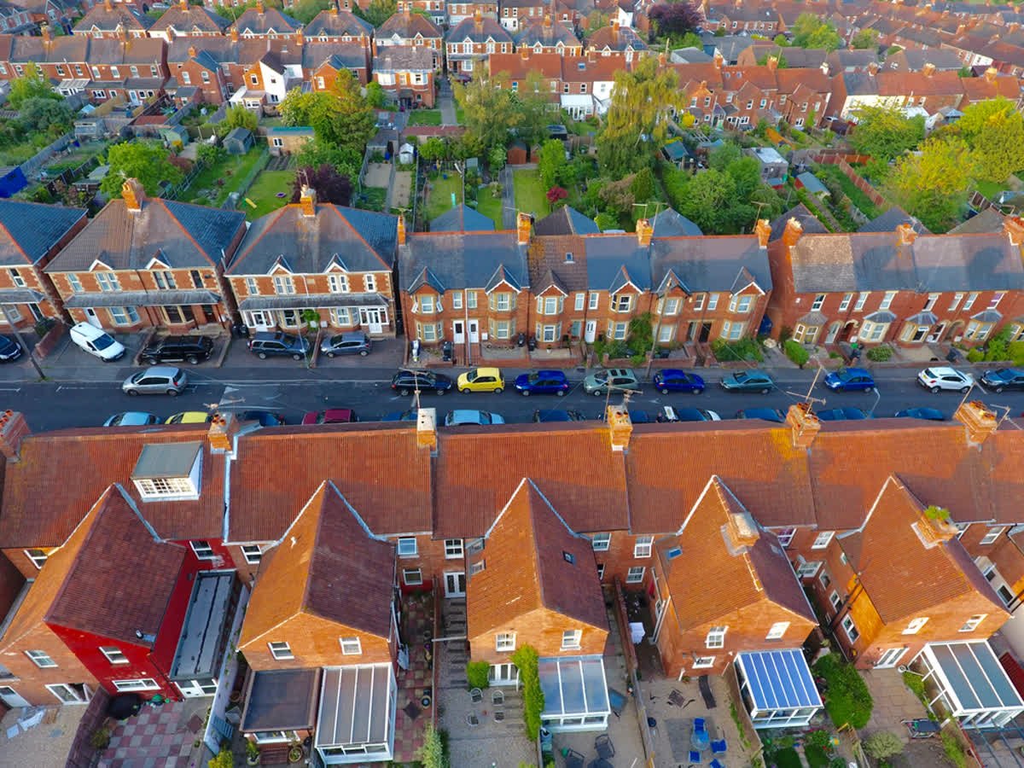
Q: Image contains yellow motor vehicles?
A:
Yes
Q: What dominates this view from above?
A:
buildings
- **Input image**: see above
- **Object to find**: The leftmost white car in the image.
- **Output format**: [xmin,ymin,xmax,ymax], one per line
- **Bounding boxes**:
[64,317,120,359]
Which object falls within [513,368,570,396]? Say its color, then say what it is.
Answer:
blue car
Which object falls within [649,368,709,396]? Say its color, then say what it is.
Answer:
blue car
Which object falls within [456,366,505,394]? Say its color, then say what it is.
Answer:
yellow car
